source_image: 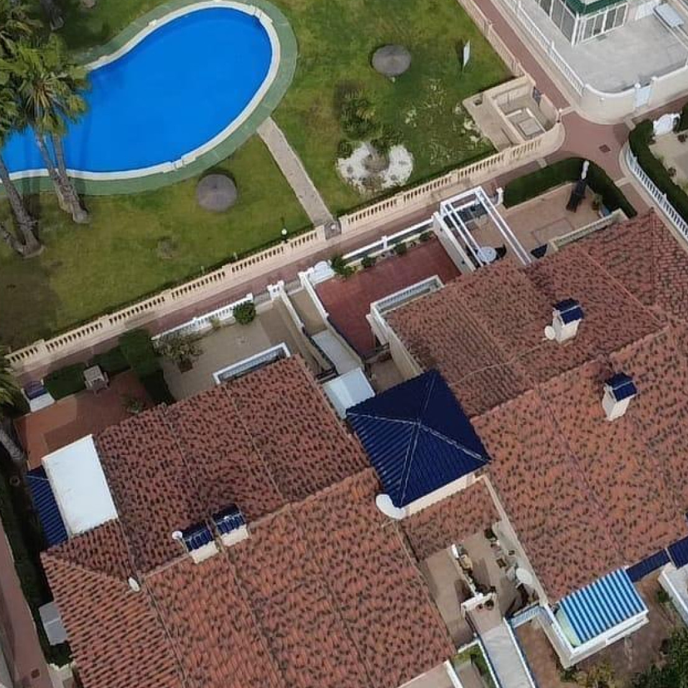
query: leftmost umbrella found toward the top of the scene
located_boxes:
[197,177,237,213]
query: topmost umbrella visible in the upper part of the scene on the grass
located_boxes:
[373,49,409,84]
